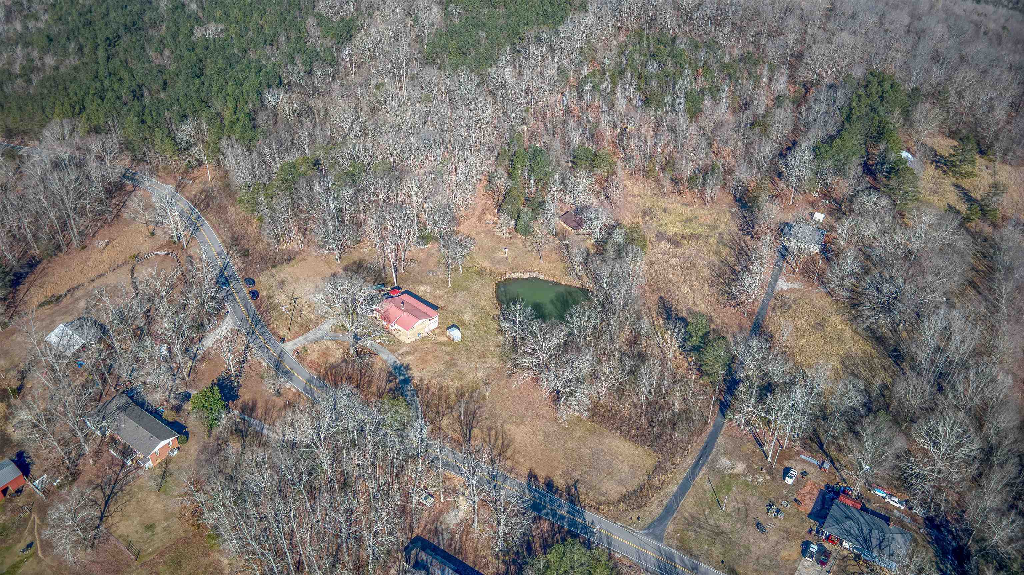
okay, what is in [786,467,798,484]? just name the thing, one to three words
vehicle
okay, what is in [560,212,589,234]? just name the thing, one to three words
building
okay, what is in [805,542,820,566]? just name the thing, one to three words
vehicle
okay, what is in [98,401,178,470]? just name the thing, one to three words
house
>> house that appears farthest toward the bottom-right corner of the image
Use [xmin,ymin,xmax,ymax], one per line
[825,491,919,575]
